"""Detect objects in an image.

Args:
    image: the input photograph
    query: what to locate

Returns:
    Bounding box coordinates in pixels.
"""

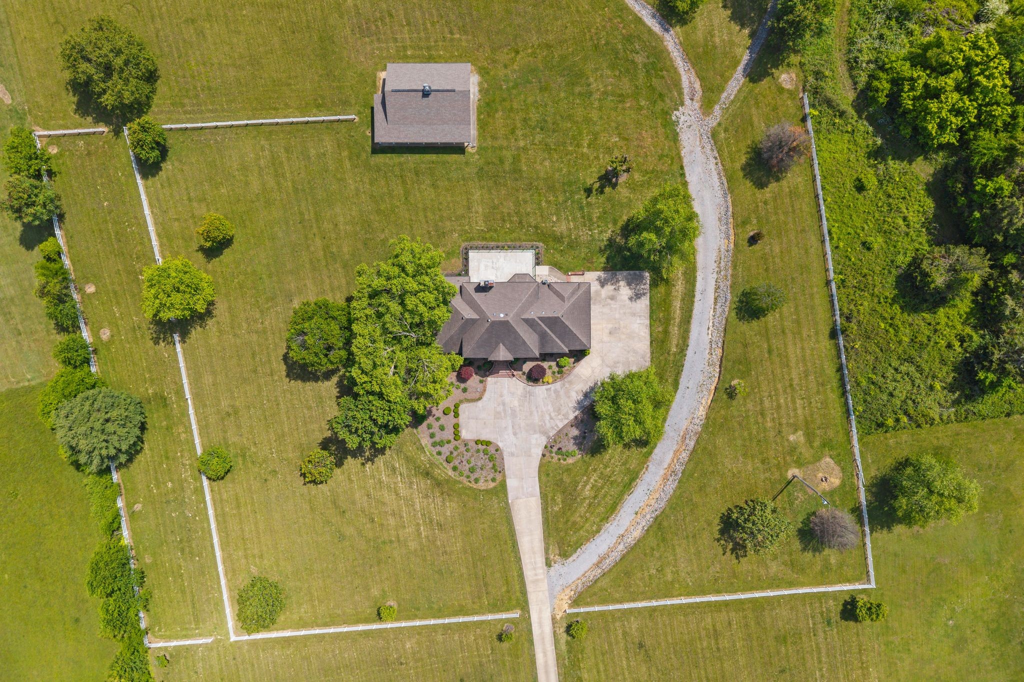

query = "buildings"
[427,274,591,377]
[374,62,474,152]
